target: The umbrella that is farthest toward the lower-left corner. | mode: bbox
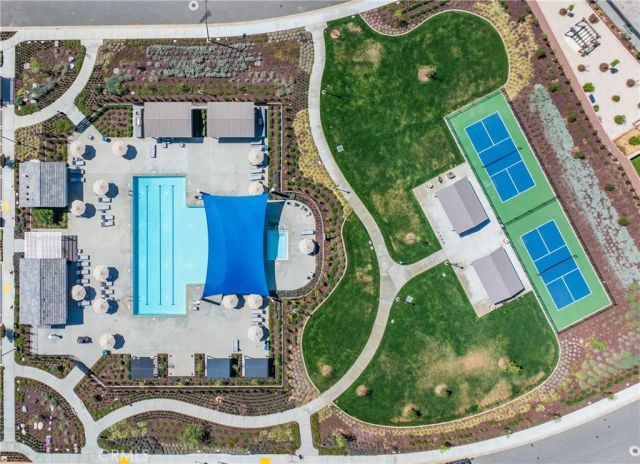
[99,333,116,349]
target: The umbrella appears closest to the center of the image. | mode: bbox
[298,238,314,255]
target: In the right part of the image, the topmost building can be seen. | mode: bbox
[432,176,489,236]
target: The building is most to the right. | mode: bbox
[468,246,526,306]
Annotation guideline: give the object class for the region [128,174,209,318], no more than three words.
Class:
swimming pool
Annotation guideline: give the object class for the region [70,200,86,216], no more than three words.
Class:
umbrella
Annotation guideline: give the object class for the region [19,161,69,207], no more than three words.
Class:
building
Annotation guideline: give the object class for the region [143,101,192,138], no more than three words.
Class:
building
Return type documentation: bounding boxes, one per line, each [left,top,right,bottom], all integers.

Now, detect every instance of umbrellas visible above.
[248,149,264,165]
[71,284,88,300]
[94,179,109,195]
[246,293,262,310]
[93,298,109,315]
[93,264,109,280]
[298,238,314,255]
[70,200,86,216]
[113,141,129,156]
[99,333,116,349]
[248,179,264,196]
[248,326,264,342]
[71,140,87,156]
[222,293,238,309]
